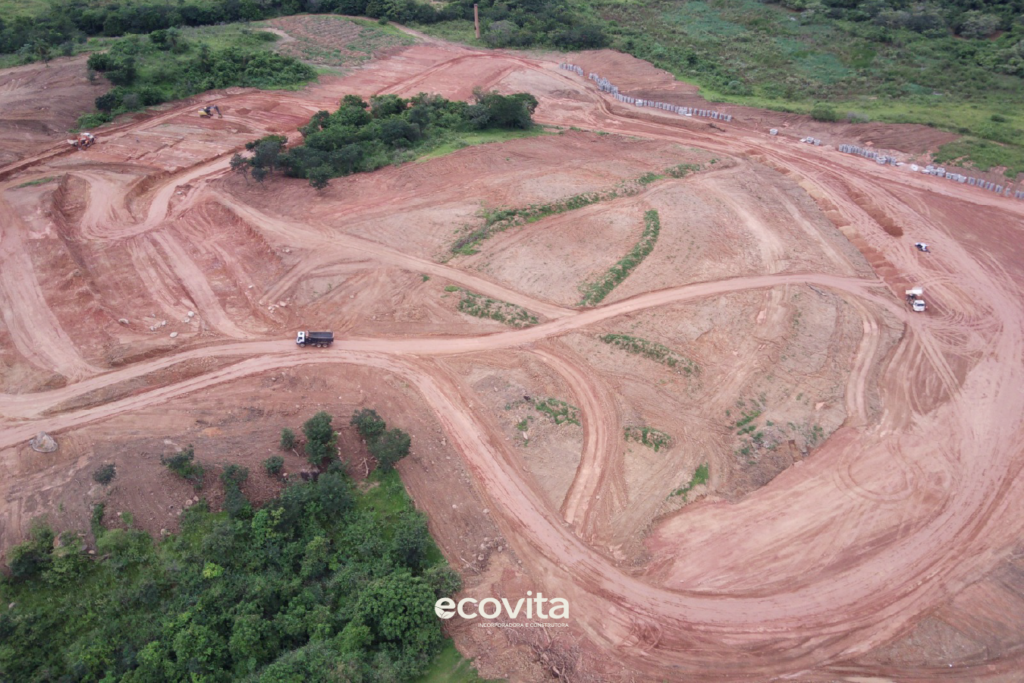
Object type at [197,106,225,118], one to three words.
vehicle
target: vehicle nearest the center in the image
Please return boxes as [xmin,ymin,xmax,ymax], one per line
[294,331,334,348]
